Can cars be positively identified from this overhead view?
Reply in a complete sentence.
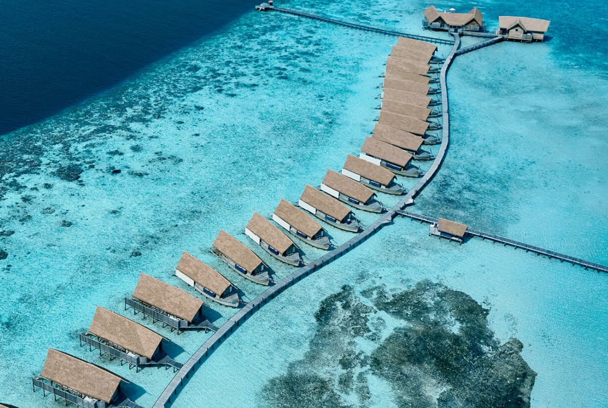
No, no car is visible in the scene.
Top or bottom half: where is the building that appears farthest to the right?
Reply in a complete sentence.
It is in the top half that the building that appears farthest to the right appears.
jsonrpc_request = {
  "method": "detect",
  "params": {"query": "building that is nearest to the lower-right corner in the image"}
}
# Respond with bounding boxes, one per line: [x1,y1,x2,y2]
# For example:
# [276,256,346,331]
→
[424,219,469,249]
